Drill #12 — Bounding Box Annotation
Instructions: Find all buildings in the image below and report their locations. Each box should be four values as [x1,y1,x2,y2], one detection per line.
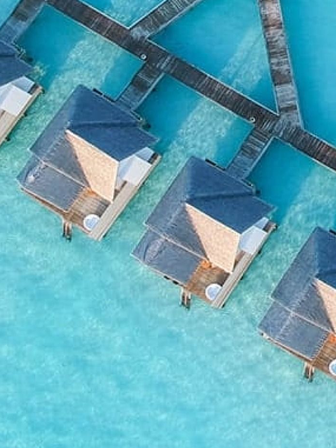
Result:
[15,90,172,239]
[249,222,336,384]
[129,154,284,310]
[0,37,64,159]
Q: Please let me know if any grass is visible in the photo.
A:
No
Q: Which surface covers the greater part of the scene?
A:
water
